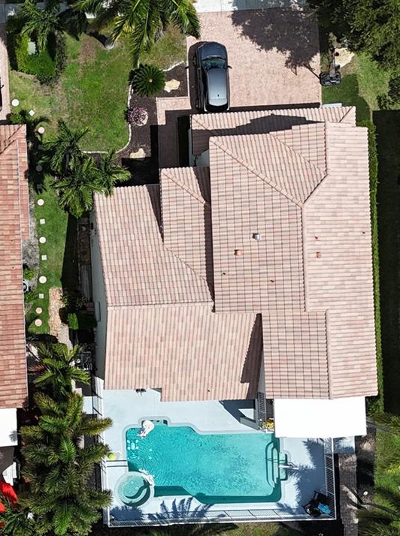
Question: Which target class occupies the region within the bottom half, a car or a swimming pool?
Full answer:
It is a swimming pool that can be seen within the bottom half.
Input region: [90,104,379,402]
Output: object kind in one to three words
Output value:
house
